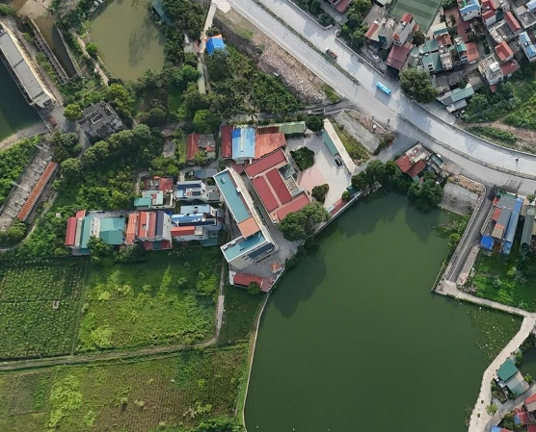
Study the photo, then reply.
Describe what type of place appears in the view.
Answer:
residential area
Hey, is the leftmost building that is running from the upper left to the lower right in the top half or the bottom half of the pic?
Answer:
top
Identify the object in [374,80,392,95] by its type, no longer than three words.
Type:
vehicle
